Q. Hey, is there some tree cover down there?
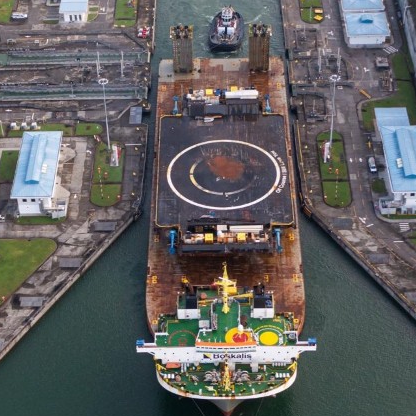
No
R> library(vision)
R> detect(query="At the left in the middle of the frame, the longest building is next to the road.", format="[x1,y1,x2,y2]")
[10,123,62,212]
